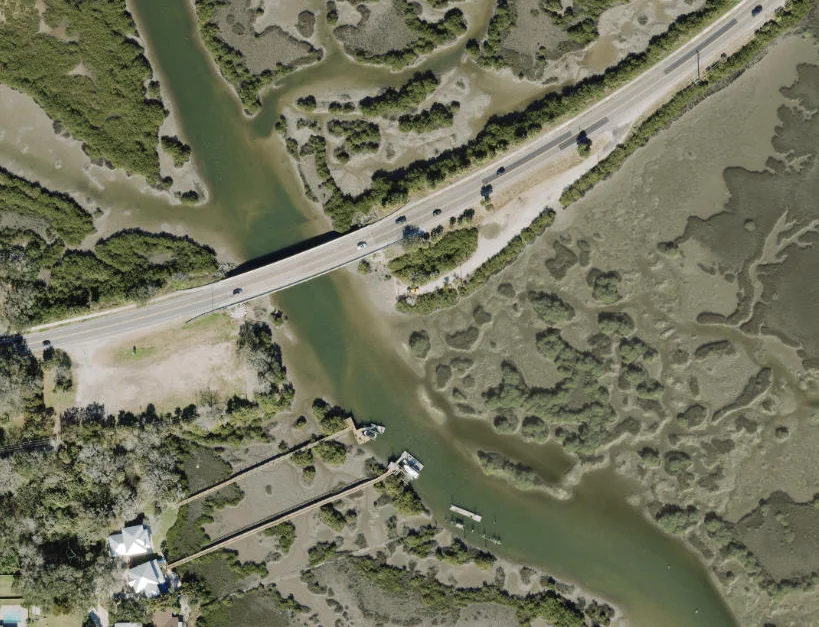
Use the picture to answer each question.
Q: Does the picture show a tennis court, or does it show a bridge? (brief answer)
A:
bridge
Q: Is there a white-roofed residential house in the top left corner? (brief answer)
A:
No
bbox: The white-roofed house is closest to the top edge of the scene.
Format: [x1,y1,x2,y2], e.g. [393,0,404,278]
[106,526,150,557]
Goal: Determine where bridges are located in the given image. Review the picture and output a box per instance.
[182,210,399,324]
